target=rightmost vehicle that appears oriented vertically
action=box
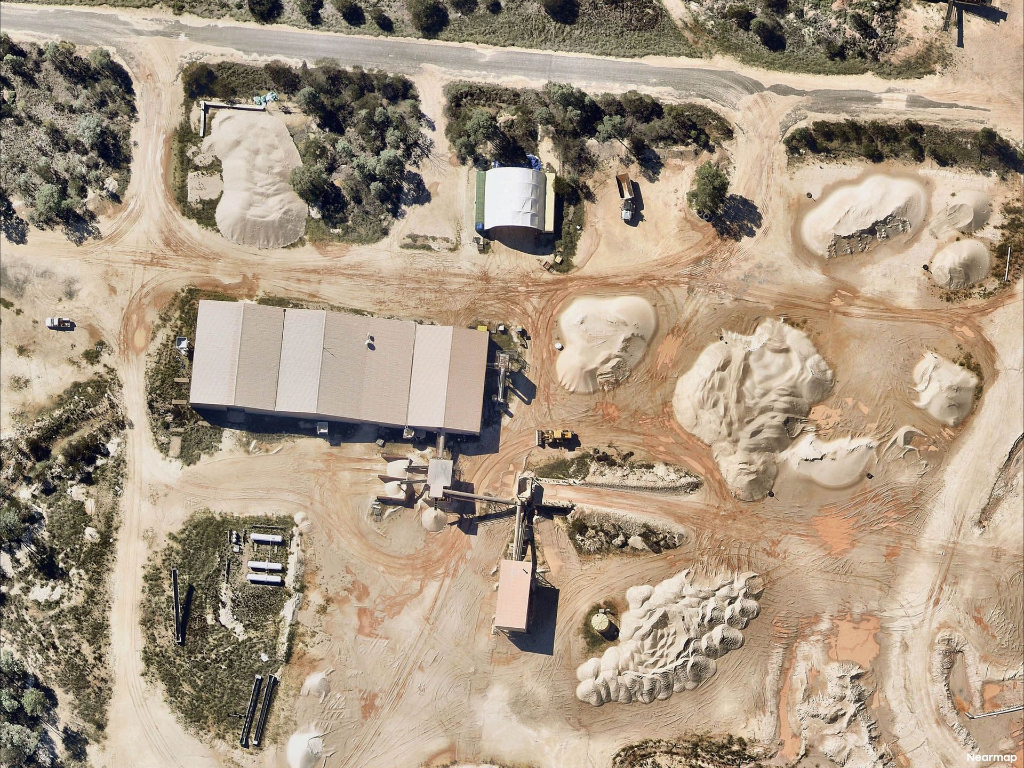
[616,170,638,222]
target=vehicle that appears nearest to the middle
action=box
[536,430,572,446]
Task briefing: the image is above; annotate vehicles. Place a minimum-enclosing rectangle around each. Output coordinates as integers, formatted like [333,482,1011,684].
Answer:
[46,318,70,328]
[536,430,572,446]
[616,170,638,222]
